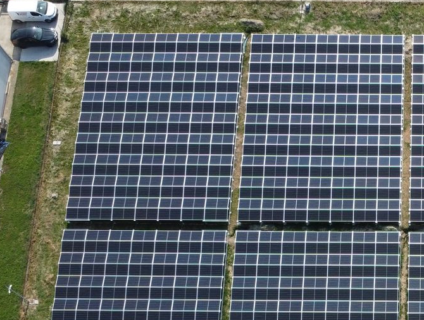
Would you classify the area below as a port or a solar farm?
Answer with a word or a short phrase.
solar farm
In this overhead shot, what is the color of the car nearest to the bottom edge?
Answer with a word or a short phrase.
black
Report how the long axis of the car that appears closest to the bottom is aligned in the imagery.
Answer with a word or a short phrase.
from side to side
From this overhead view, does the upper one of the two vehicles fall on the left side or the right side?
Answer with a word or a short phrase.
left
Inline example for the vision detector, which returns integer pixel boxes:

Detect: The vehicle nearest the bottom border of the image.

[10,23,58,47]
